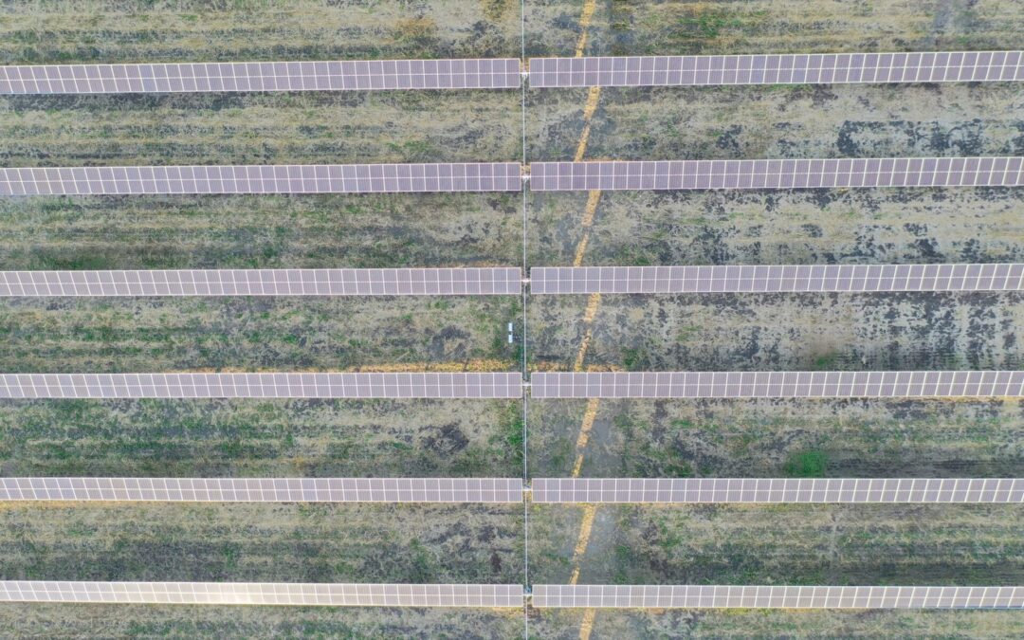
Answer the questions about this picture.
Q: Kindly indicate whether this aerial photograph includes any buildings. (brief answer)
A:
No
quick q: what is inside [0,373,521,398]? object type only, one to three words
solar array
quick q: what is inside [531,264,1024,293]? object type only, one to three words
solar array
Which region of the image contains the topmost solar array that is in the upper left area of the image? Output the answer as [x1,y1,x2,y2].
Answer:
[0,59,520,93]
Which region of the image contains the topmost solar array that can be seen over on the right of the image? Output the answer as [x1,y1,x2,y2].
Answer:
[530,52,1024,86]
